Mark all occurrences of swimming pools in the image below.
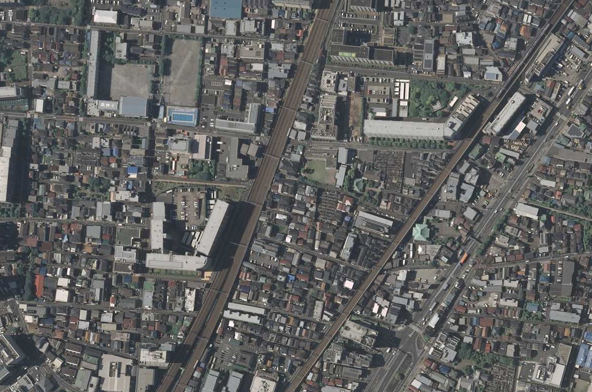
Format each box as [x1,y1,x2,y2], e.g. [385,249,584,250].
[167,108,198,127]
